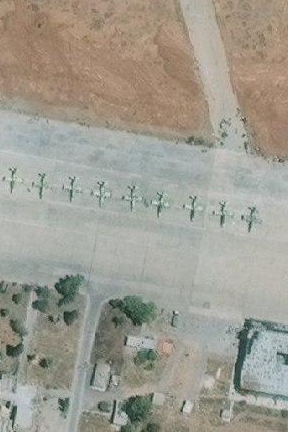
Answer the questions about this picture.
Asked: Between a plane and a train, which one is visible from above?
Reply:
plane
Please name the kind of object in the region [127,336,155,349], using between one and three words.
house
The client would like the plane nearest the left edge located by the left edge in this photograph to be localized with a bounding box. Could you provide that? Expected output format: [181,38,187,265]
[3,166,22,191]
